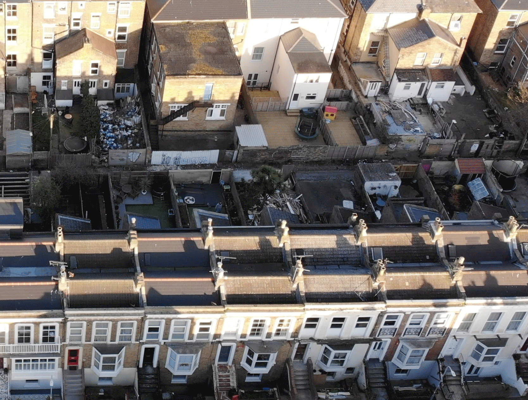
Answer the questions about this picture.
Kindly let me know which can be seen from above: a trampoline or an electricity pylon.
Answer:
trampoline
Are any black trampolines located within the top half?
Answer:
Yes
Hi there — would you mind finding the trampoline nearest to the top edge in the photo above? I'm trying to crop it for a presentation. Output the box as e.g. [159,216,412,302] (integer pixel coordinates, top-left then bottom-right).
[292,108,324,140]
